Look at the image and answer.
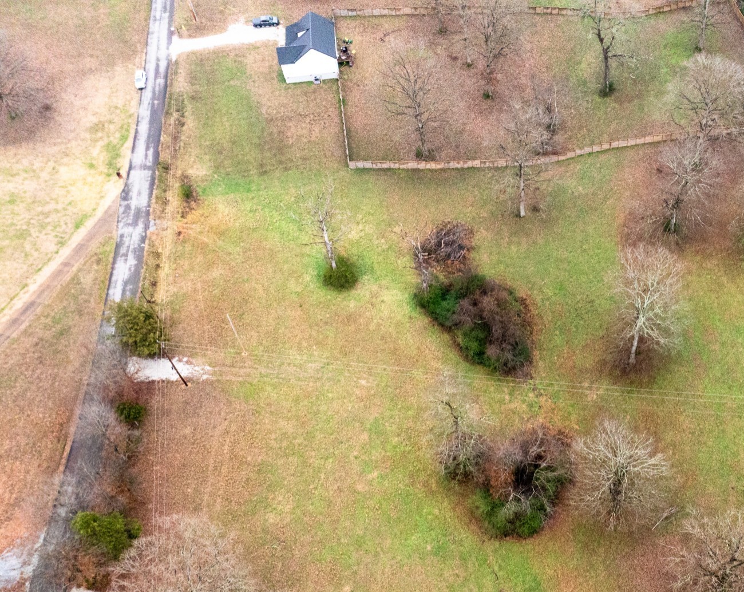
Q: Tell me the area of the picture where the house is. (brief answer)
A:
top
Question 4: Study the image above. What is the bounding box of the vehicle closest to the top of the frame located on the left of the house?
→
[252,16,278,29]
